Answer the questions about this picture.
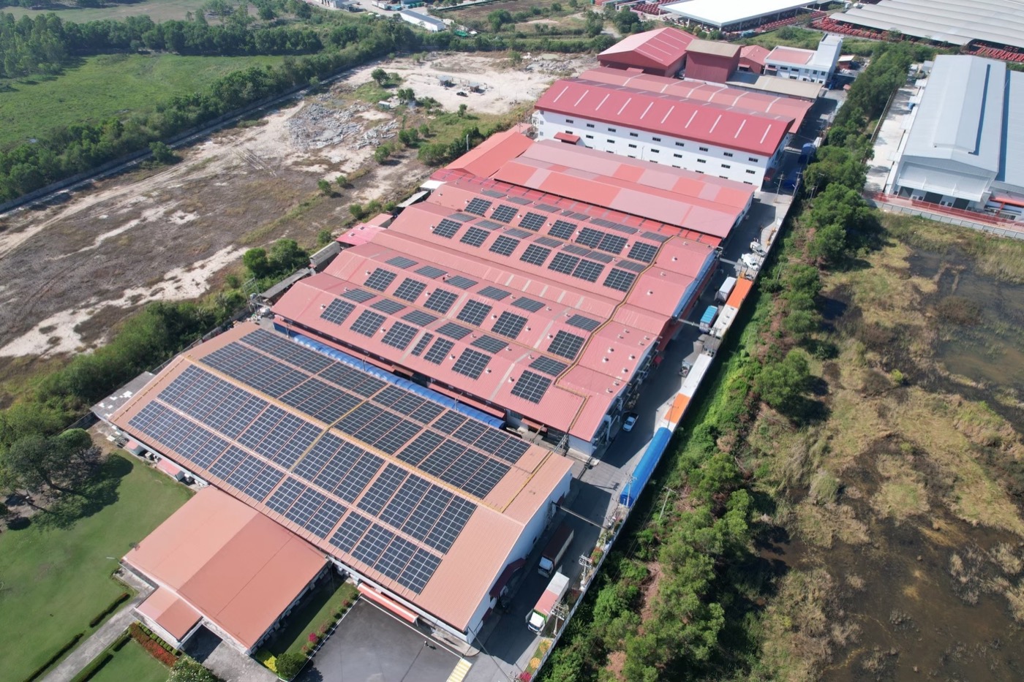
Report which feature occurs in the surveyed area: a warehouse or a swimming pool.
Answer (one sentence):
Visible in the photo is a warehouse.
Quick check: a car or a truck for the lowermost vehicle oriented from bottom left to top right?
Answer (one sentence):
In the photo, the lowermost vehicle oriented from bottom left to top right shows up as a truck.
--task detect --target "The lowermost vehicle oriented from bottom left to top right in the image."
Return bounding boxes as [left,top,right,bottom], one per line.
[525,562,576,640]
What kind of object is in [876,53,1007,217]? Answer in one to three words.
warehouse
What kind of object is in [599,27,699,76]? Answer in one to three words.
barn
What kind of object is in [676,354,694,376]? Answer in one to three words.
vehicle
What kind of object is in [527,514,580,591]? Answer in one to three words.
truck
